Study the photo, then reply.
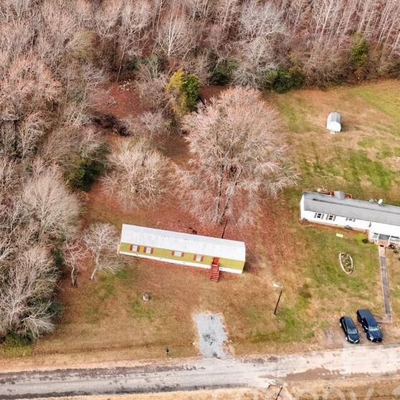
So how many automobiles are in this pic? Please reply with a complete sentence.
There are 2 automobiles in the image.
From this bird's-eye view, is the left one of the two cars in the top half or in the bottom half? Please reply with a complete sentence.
The left one of the two cars is in the bottom half of the image.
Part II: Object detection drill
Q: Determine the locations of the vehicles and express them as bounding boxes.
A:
[339,315,361,342]
[359,310,382,341]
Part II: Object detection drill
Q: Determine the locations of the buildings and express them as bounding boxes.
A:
[299,189,400,249]
[325,109,343,133]
[118,223,246,281]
